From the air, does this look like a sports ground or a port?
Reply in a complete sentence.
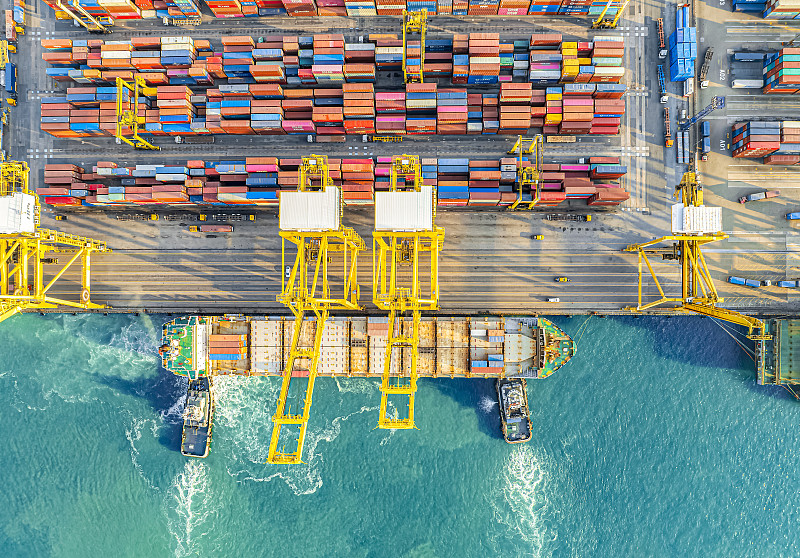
This looks like a port.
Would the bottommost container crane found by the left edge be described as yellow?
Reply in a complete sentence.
Yes, the bottommost container crane found by the left edge is yellow.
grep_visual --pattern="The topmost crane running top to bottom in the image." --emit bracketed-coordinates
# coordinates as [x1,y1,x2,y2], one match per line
[399,7,429,91]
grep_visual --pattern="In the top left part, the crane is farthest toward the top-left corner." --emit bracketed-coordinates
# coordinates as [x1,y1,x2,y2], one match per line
[63,0,112,35]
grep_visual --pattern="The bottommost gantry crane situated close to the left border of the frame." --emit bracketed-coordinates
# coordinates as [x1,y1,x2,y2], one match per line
[0,162,102,317]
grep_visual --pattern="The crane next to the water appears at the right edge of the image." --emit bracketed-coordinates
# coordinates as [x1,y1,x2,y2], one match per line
[620,172,788,353]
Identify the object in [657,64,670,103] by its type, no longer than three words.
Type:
vehicle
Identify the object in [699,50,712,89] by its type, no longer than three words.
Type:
vehicle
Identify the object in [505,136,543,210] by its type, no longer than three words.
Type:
crane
